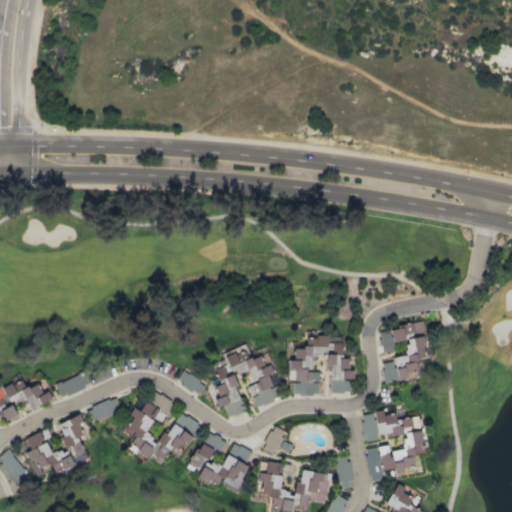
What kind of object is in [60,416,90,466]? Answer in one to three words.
house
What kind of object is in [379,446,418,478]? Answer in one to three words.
house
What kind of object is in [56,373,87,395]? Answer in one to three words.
building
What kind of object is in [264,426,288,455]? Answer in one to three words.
building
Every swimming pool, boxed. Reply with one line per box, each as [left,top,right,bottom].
[288,423,334,456]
